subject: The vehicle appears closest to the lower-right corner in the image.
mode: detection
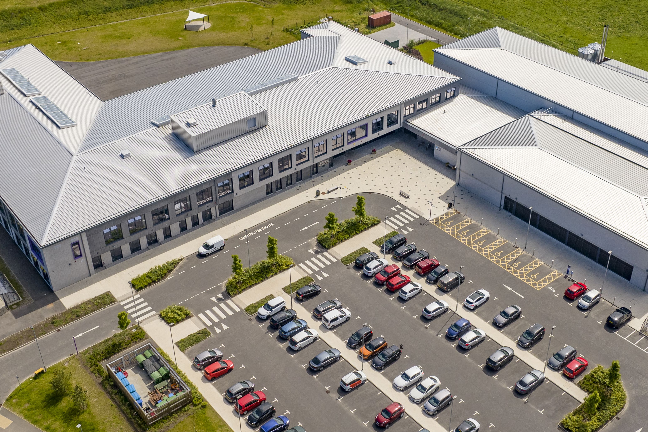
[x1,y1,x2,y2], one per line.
[561,359,590,382]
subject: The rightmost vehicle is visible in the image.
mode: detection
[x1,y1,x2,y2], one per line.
[604,308,633,330]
